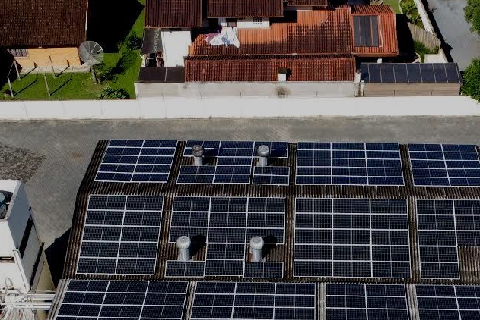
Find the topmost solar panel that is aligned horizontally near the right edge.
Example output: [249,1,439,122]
[360,62,462,84]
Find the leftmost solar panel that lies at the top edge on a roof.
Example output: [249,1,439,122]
[354,15,379,46]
